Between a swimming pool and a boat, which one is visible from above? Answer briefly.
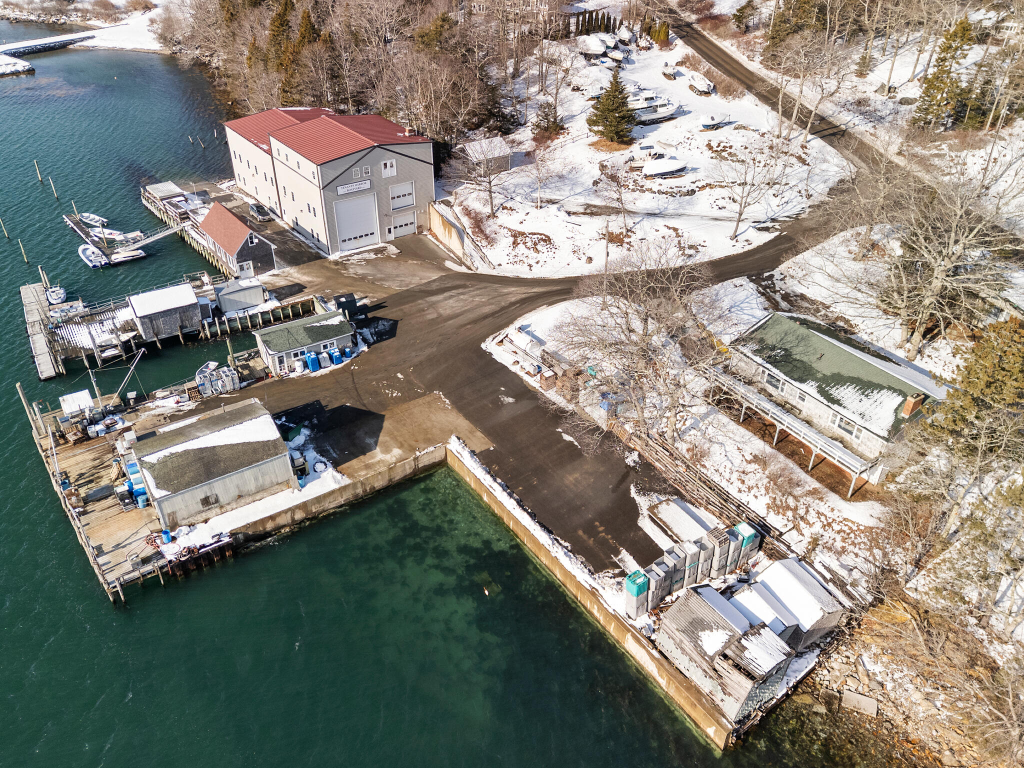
boat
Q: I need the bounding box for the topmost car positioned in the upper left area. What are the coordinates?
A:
[247,197,272,218]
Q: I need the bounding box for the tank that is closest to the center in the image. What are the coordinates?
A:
[503,326,539,359]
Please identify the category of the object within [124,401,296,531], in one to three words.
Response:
shed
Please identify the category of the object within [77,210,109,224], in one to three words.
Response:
boat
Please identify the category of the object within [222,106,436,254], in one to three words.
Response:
shed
